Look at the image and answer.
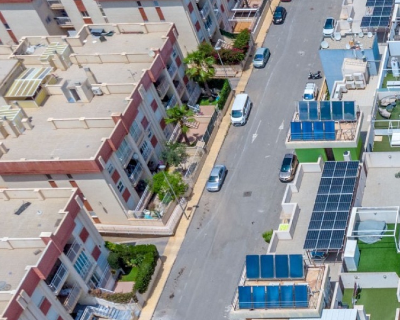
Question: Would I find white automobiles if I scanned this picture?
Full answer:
Yes, there is a white automobile in the image.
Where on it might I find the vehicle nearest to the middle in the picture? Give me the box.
[206,162,228,189]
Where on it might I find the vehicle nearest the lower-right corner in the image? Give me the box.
[277,151,298,180]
